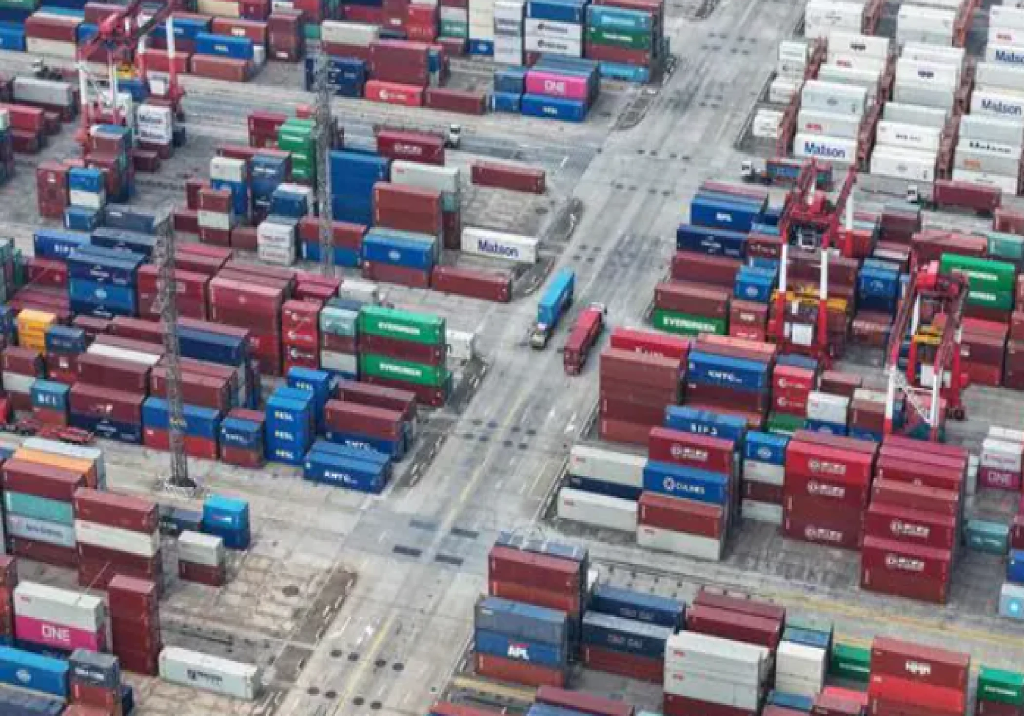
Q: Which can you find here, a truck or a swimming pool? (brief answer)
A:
truck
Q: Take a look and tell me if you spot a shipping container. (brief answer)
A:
Yes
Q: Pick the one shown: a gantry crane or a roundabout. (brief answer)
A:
gantry crane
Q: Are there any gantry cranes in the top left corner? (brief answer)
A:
Yes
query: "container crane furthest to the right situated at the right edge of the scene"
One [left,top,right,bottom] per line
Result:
[880,272,982,449]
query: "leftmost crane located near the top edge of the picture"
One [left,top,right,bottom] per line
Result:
[64,0,184,149]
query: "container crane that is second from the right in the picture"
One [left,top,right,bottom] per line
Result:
[772,153,871,374]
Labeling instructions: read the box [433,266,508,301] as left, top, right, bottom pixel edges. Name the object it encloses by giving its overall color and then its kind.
red shipping container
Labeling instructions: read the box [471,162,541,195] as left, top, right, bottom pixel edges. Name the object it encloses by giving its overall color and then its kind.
red shipping container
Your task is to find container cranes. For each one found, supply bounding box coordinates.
[772,153,871,374]
[880,272,982,449]
[64,0,184,149]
